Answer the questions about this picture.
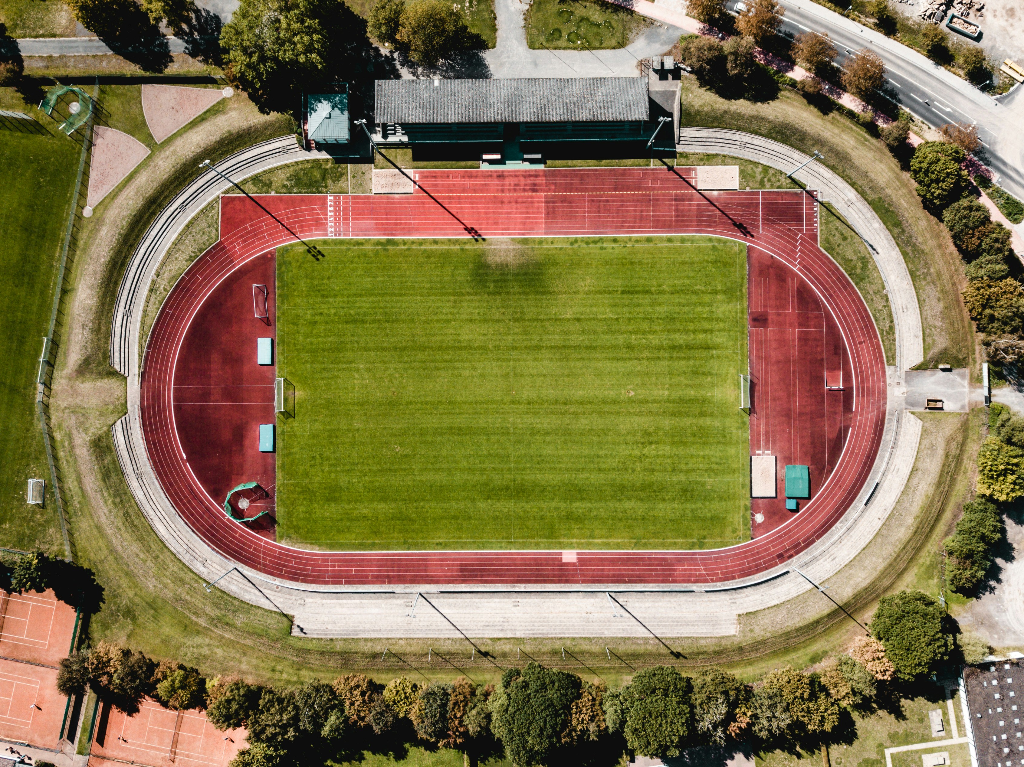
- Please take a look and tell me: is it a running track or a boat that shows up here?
running track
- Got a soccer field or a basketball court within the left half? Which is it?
soccer field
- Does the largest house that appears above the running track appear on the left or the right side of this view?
left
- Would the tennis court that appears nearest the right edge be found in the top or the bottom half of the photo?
bottom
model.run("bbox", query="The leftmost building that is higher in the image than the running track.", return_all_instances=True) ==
[308,94,349,142]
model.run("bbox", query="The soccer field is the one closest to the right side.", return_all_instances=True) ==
[275,235,751,551]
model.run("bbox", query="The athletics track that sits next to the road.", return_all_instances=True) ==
[138,164,889,587]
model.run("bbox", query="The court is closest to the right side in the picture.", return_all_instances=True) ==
[88,694,250,767]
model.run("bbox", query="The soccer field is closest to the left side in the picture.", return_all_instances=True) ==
[0,121,82,555]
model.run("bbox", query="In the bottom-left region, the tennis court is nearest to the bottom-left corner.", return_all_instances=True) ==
[0,659,70,750]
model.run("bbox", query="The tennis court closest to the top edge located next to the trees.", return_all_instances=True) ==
[0,583,77,668]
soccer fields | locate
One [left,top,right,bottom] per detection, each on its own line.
[0,121,82,555]
[275,235,751,551]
